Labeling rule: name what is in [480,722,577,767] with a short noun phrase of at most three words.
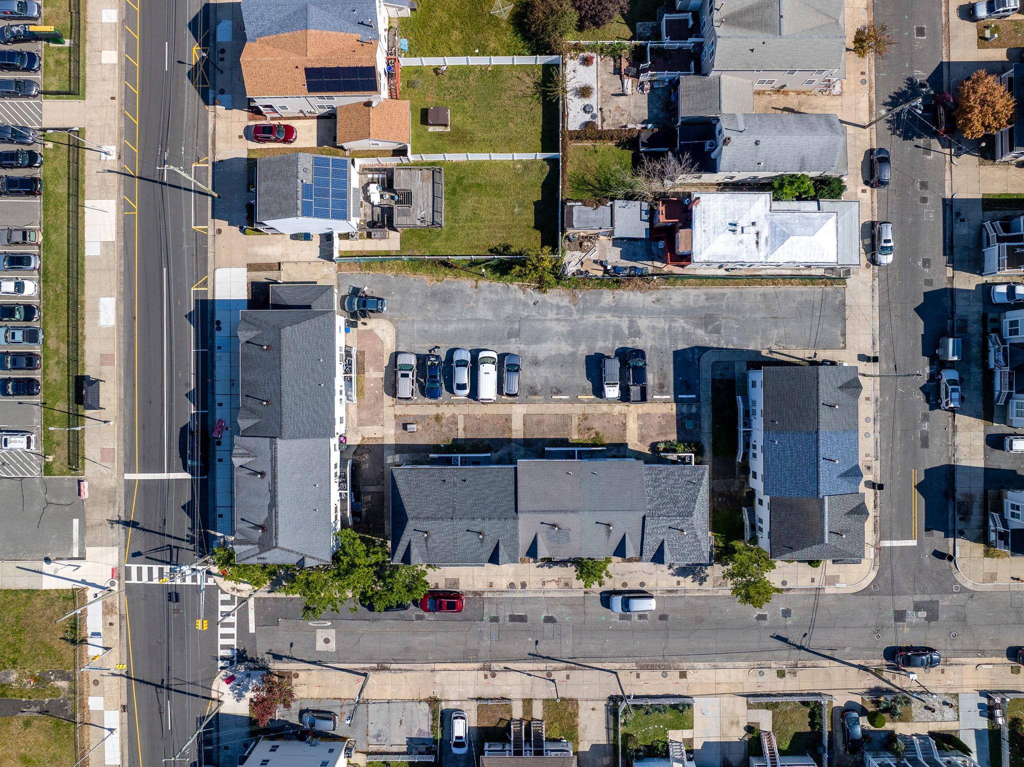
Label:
house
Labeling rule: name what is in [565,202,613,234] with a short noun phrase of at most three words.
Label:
shed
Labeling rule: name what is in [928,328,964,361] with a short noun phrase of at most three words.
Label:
trailer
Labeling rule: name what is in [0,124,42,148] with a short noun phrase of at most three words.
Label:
car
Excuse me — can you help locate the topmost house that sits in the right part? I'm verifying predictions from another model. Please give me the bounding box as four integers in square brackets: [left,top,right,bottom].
[636,0,848,95]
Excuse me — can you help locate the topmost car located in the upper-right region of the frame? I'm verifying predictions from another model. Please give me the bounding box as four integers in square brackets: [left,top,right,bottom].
[969,0,1019,23]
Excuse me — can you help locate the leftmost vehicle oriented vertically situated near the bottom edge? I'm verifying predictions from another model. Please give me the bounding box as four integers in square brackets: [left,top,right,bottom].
[448,705,471,755]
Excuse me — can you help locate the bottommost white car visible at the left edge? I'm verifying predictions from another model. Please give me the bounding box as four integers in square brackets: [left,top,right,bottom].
[0,431,41,453]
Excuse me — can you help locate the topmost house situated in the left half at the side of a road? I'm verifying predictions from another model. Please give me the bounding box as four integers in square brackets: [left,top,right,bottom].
[238,0,412,121]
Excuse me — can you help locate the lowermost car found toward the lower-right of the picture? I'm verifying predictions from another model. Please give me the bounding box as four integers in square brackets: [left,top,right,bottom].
[839,707,864,754]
